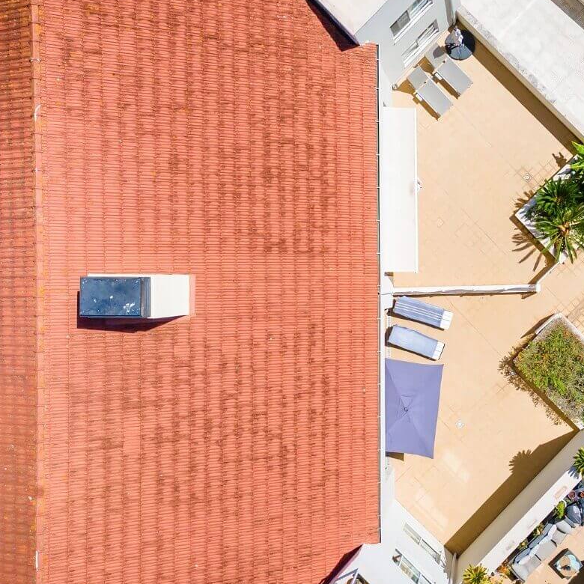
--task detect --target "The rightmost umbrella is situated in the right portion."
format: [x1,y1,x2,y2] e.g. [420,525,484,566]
[444,20,475,59]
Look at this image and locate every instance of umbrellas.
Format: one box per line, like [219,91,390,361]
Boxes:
[444,20,475,59]
[385,358,444,458]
